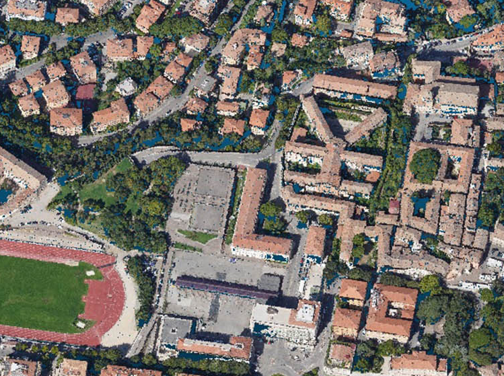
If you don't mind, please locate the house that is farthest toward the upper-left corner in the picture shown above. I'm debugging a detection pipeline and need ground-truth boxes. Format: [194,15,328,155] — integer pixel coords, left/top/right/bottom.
[5,0,47,21]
